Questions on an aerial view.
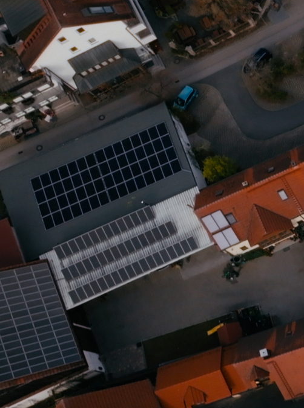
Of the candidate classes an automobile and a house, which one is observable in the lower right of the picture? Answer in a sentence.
There is a house in the lower right of the picture.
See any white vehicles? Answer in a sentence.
No, I can't see a single white vehicle in this photo.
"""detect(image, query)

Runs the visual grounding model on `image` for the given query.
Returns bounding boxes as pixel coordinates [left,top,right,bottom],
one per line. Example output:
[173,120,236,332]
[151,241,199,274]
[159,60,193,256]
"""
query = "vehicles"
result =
[170,82,201,111]
[242,43,275,75]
